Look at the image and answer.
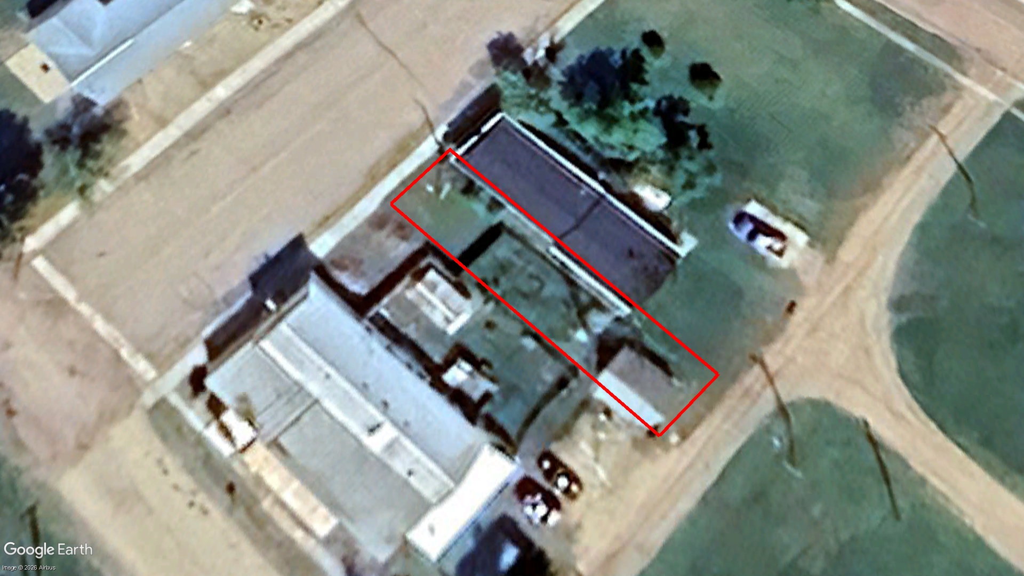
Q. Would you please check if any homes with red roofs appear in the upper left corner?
No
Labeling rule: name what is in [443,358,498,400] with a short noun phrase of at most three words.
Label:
shed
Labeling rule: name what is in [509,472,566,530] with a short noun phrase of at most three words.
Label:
truck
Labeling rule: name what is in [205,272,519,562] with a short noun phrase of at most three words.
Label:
building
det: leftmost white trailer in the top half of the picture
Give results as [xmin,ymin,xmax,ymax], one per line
[628,180,670,214]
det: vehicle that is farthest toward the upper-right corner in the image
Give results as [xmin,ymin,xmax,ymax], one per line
[730,213,790,265]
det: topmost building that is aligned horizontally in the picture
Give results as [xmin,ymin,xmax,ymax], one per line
[28,0,257,106]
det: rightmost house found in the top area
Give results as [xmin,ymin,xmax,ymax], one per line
[452,114,699,318]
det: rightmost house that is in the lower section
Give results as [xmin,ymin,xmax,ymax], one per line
[592,345,687,430]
